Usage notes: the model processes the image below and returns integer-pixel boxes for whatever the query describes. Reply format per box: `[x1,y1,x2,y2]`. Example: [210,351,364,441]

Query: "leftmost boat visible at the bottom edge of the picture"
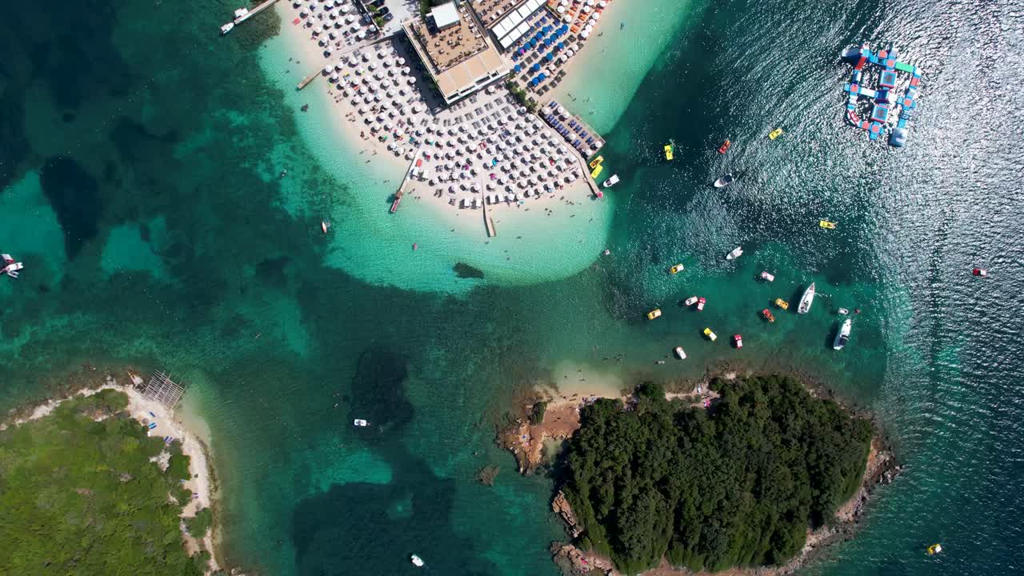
[409,553,424,566]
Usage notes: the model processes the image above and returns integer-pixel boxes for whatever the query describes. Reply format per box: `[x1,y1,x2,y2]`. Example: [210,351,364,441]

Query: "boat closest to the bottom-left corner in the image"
[129,371,143,386]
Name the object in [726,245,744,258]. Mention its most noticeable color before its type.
white boat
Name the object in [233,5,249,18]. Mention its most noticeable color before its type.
white boat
